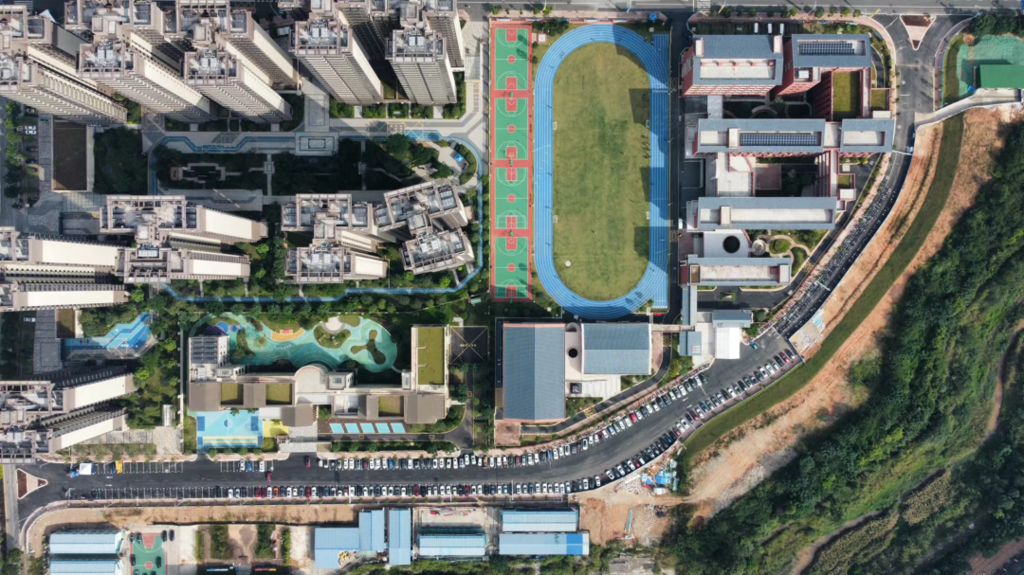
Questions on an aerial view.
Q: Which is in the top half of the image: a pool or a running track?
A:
running track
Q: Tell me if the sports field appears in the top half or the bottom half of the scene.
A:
top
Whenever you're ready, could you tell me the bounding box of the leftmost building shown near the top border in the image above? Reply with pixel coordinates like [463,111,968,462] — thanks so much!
[0,3,123,125]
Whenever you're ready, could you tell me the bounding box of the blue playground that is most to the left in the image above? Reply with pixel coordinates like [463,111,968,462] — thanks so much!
[63,312,153,359]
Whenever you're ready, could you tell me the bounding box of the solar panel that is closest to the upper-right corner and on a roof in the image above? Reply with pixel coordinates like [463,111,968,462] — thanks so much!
[800,42,853,54]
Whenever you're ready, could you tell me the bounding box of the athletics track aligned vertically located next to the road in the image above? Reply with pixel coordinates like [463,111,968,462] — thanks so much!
[534,23,669,319]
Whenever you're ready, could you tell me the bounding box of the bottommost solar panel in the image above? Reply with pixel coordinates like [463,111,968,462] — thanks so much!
[191,339,216,364]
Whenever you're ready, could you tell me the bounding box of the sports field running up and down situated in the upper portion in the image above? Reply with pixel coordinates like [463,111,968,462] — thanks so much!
[553,42,650,300]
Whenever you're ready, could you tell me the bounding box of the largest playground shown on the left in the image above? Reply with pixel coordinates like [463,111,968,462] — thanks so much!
[190,312,397,373]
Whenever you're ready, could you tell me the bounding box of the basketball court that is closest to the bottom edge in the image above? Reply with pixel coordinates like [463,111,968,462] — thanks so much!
[131,534,167,575]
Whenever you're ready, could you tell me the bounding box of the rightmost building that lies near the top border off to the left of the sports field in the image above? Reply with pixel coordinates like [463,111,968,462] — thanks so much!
[371,0,467,103]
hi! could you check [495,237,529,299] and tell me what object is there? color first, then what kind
green basketball court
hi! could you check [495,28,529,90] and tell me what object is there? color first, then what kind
green basketball court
